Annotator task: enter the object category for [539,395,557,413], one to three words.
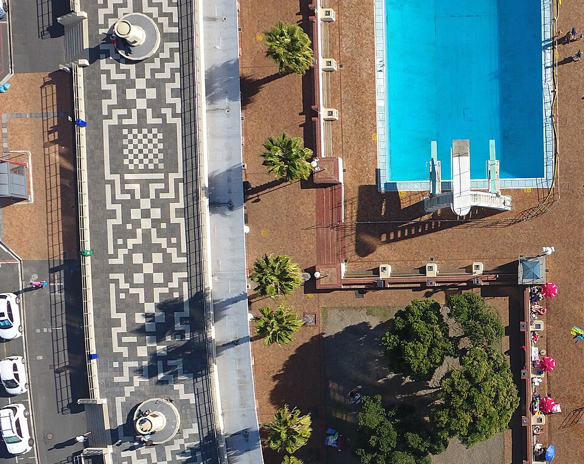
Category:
umbrella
